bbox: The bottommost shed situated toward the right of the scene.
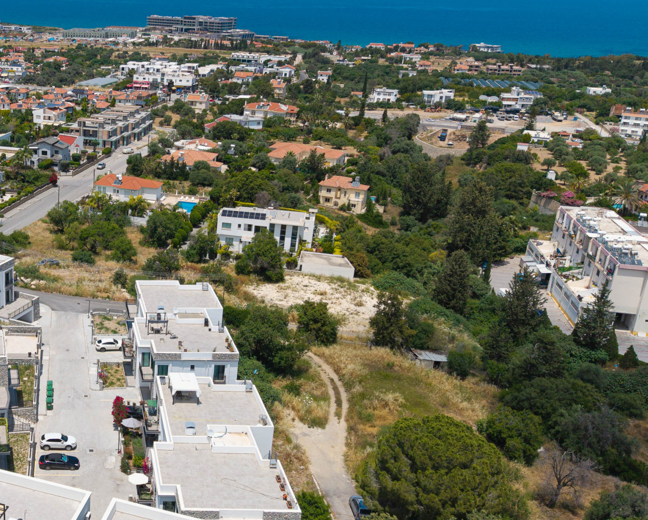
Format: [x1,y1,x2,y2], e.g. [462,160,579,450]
[410,348,448,373]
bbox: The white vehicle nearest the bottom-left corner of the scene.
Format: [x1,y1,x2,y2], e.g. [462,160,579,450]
[40,432,77,450]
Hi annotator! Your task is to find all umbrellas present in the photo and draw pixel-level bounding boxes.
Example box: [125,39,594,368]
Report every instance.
[120,418,143,435]
[126,474,147,494]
